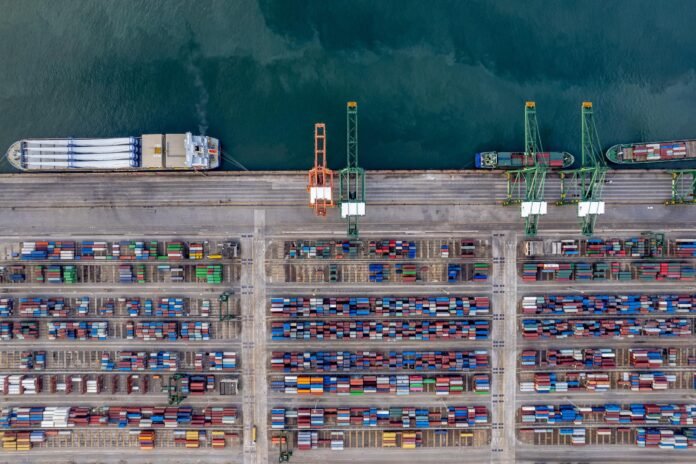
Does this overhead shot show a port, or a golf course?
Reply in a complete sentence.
What you see here is a port.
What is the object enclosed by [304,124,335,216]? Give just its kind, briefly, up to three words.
container crane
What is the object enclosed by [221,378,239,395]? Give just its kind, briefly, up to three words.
shed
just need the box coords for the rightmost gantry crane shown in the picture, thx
[661,168,696,217]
